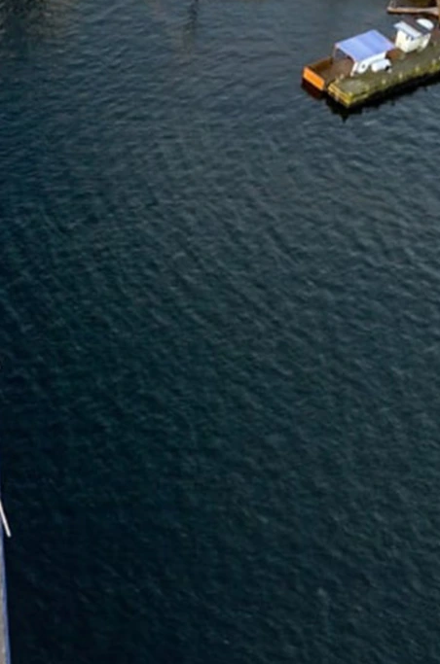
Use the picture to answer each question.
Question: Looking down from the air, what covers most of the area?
water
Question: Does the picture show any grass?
No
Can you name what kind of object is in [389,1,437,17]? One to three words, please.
pier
